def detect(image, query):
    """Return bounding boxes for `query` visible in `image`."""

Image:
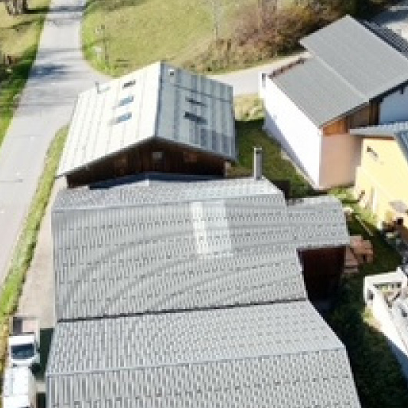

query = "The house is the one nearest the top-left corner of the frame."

[55,61,239,183]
